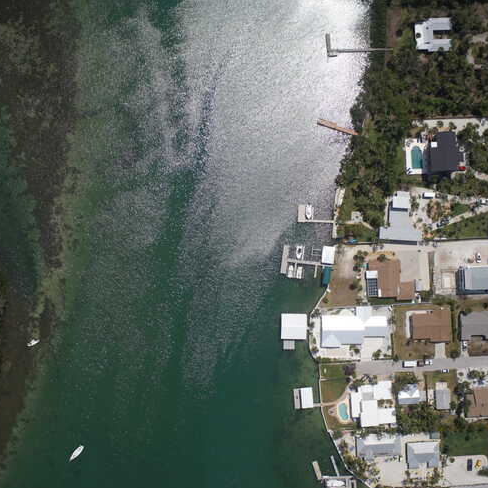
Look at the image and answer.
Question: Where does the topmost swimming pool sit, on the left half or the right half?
right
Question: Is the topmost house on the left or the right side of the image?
right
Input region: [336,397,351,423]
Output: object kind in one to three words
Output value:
swimming pool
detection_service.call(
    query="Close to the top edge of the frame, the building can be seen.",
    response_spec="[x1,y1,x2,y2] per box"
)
[413,17,452,54]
